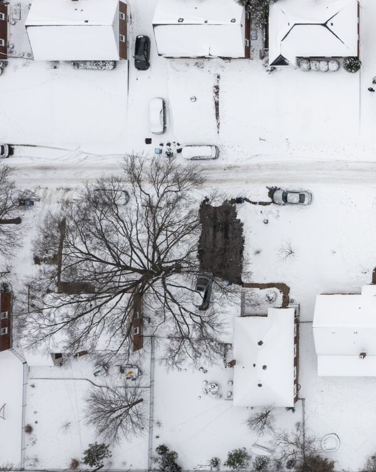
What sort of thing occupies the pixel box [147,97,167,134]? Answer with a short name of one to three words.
car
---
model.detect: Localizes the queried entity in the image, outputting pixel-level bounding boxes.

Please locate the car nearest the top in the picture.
[133,34,152,71]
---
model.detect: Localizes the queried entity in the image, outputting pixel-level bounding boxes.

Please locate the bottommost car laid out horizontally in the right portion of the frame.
[273,188,313,205]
